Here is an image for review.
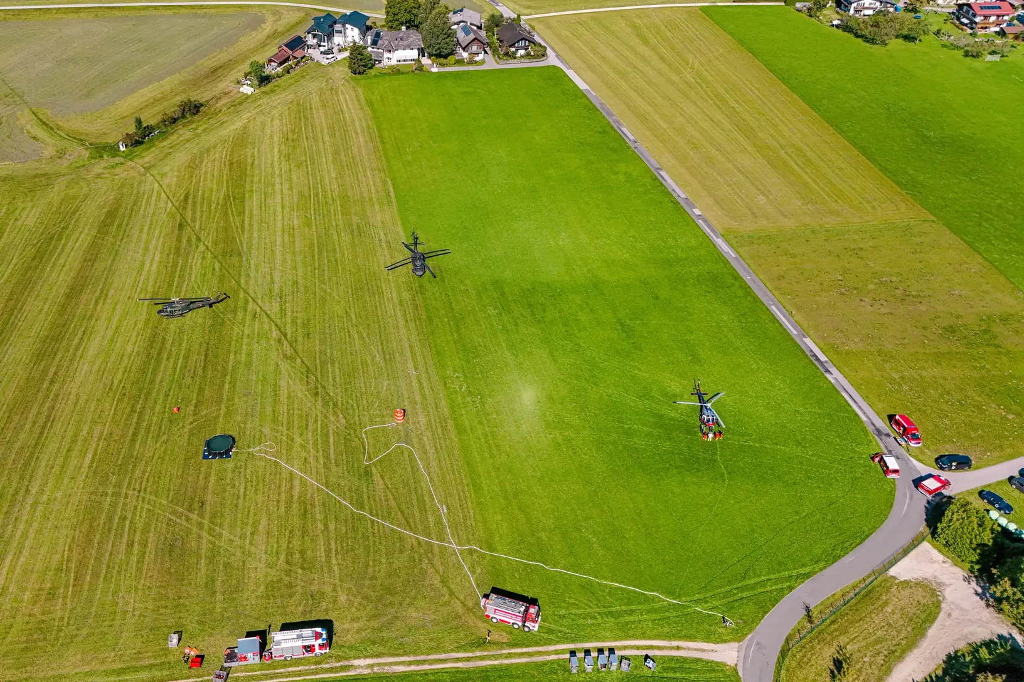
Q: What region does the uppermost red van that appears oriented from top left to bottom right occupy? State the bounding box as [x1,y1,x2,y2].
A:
[891,414,926,449]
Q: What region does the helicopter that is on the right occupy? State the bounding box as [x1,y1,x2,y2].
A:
[674,375,726,428]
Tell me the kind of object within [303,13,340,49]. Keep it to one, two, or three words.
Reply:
house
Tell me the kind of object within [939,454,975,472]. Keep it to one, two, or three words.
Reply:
car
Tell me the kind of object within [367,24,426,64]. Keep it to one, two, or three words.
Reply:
house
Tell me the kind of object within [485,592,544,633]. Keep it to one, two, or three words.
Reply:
truck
